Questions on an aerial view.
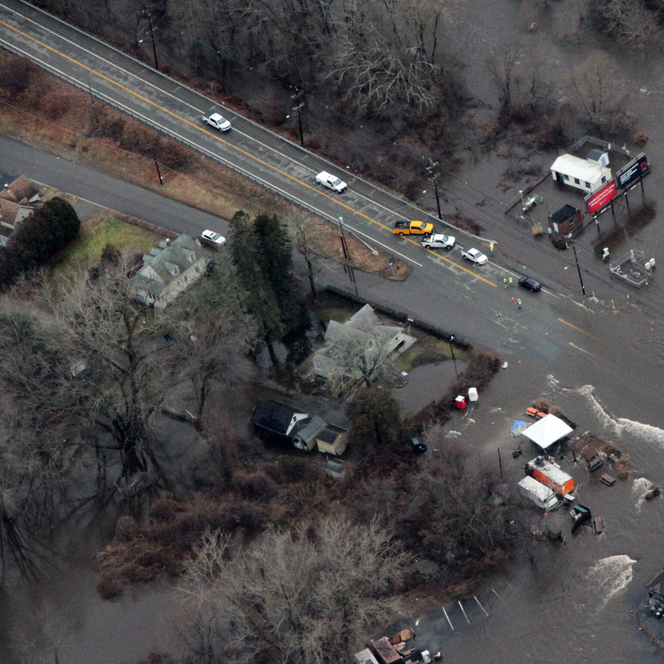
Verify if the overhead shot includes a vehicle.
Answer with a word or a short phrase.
Yes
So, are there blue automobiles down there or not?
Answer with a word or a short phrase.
No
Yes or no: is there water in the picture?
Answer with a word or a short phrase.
Yes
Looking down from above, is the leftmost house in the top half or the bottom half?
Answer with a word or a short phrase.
top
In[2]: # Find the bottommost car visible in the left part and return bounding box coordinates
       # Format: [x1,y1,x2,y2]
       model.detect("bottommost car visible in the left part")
[199,226,227,245]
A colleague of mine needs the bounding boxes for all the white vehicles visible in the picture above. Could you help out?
[200,112,230,132]
[457,245,488,266]
[518,476,565,520]
[315,170,346,192]
[199,226,227,245]
[420,235,456,250]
